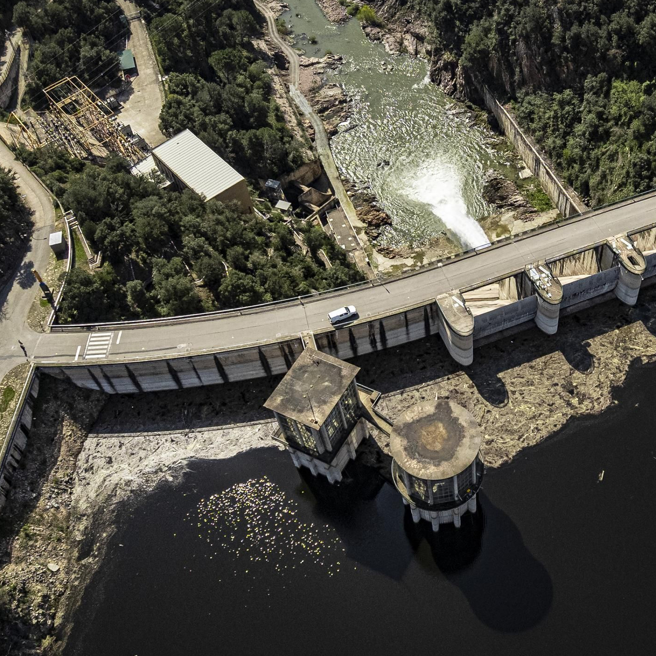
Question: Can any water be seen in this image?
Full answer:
Yes, there is water in the image.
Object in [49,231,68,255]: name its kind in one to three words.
shed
